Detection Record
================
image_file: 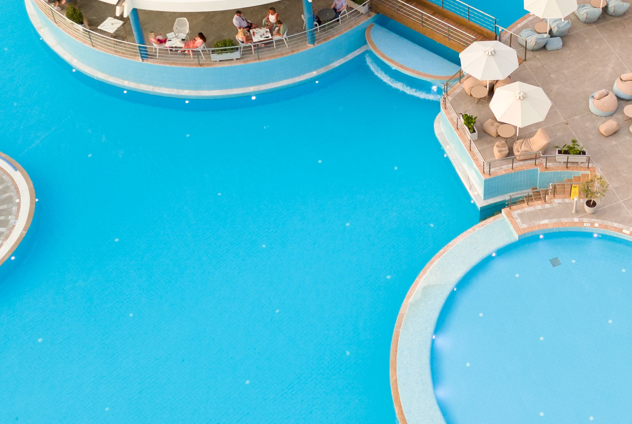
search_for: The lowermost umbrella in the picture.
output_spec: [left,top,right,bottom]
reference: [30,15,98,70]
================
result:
[491,83,552,139]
